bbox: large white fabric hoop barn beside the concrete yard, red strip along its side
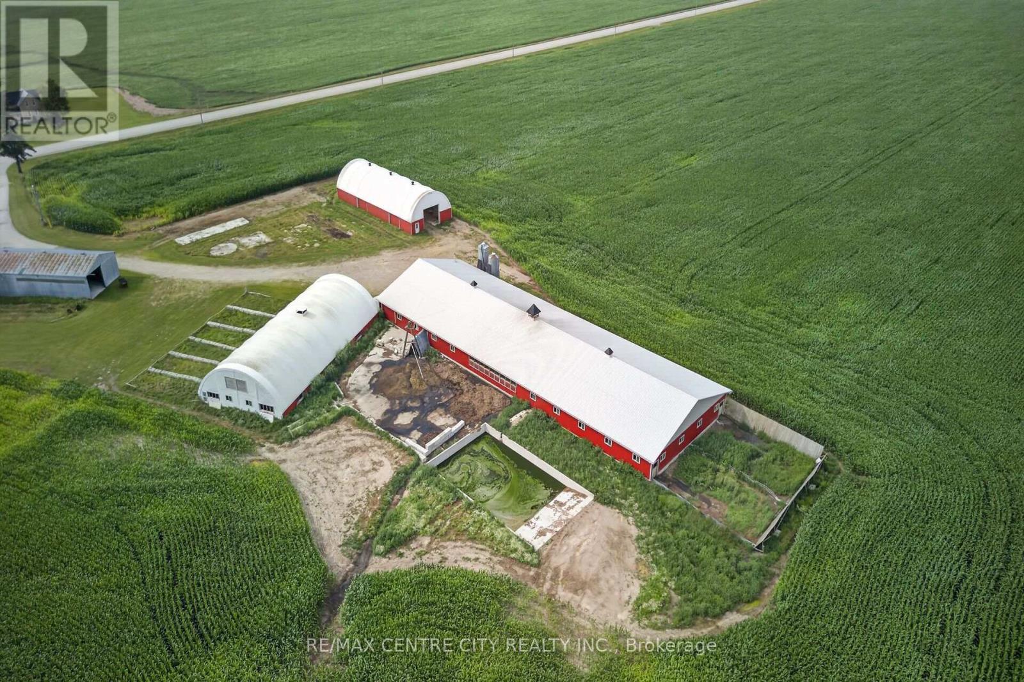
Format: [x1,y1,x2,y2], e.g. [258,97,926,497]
[196,271,381,424]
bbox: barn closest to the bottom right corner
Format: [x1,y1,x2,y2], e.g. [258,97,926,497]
[378,257,732,480]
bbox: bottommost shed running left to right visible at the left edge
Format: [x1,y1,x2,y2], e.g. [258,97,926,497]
[0,250,122,298]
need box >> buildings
[196,271,381,424]
[336,158,452,234]
[0,250,122,298]
[0,81,68,129]
[378,257,732,480]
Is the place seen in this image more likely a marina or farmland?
farmland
